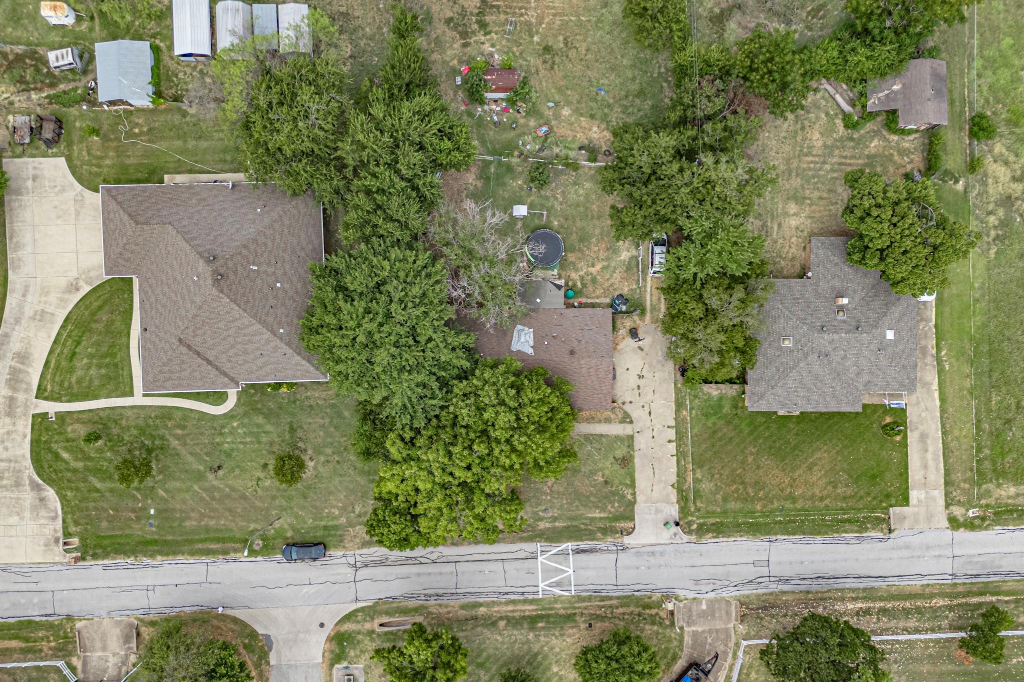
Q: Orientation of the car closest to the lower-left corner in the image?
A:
from left to right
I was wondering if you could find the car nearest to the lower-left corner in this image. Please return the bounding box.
[282,545,323,565]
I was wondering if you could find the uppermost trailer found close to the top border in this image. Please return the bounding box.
[41,1,86,27]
